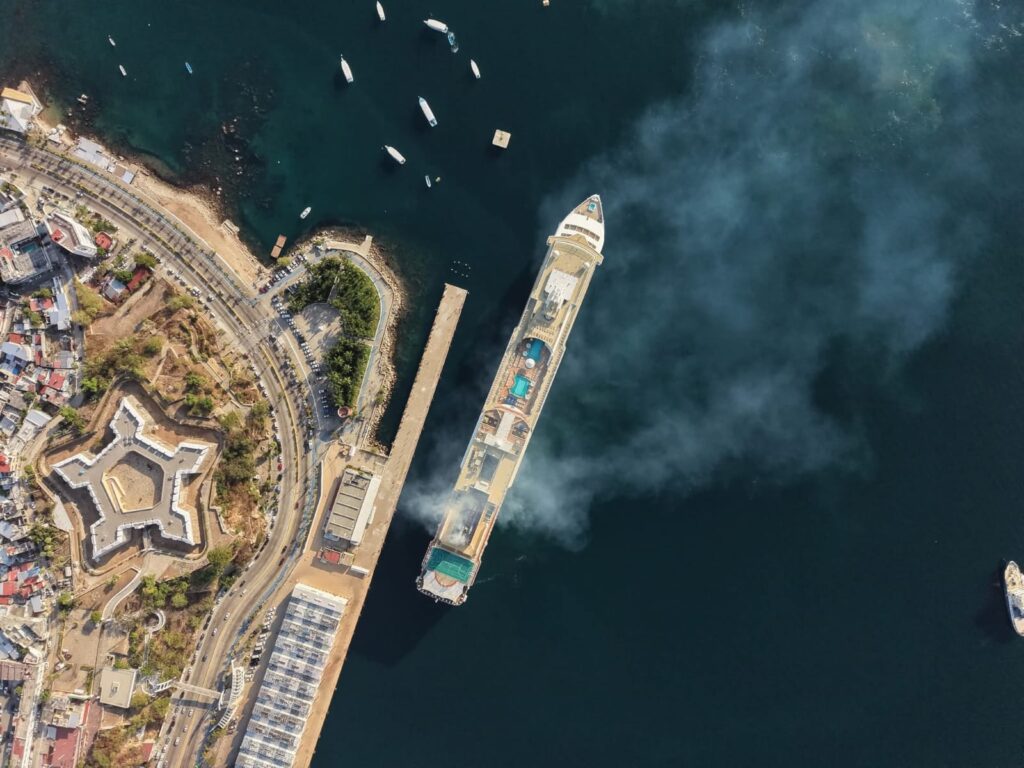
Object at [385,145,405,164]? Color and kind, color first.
white boat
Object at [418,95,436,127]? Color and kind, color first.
white boat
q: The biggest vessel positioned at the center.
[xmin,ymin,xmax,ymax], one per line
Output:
[417,194,603,603]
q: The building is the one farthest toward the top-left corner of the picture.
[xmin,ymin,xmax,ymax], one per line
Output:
[0,80,46,134]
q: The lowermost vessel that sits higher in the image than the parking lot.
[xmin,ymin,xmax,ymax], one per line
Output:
[270,234,288,258]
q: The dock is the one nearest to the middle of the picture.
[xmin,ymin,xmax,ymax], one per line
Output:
[388,284,467,452]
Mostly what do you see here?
water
